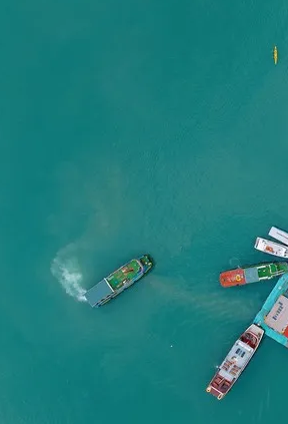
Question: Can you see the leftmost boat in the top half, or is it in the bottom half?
bottom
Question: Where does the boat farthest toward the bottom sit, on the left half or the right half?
right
